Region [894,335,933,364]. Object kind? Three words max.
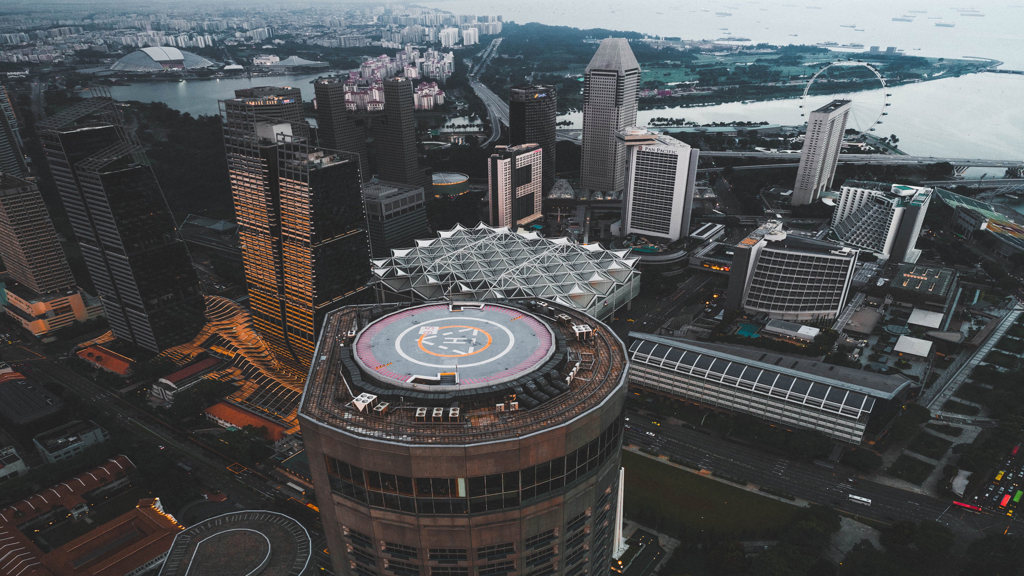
building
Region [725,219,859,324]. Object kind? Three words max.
building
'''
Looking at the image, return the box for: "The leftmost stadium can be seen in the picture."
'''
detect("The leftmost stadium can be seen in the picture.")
[105,45,217,70]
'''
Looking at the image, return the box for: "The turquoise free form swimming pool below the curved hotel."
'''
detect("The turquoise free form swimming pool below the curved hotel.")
[736,322,762,338]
